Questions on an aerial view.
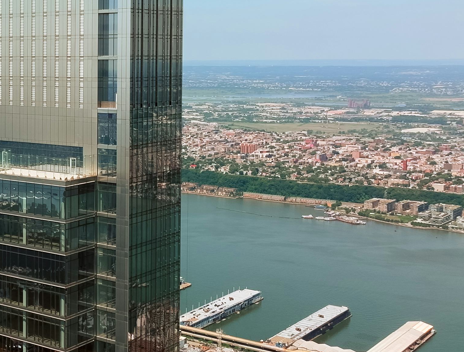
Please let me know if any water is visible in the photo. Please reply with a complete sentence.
Yes, water can be seen from above here.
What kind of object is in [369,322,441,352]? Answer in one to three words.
pier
